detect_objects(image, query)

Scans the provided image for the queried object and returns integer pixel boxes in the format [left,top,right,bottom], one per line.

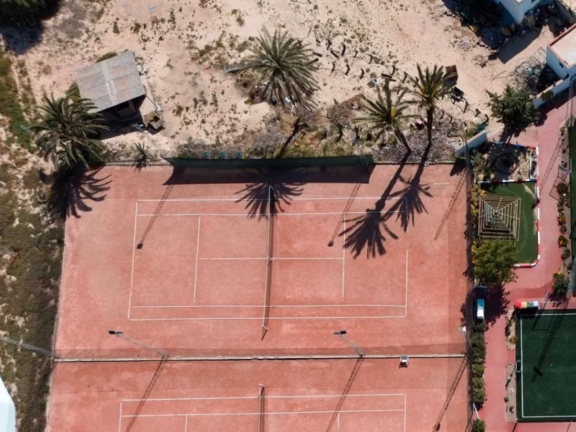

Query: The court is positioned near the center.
[55,163,469,359]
